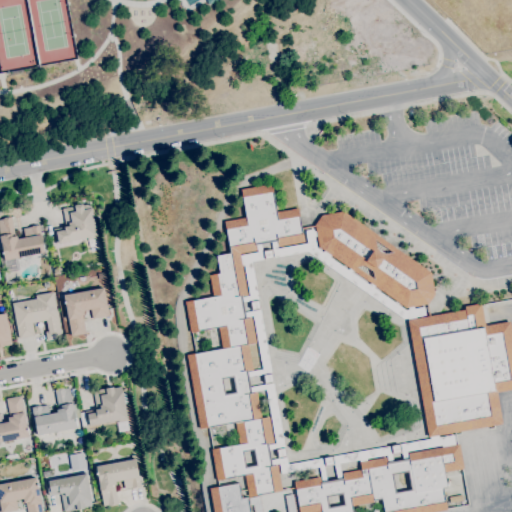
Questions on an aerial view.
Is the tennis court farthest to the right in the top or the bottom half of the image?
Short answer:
top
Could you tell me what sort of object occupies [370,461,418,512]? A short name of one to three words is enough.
building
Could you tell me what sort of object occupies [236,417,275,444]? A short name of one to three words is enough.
building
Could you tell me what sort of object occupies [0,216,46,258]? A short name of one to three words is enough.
house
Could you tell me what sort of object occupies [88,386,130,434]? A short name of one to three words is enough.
house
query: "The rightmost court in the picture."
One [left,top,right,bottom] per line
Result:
[28,0,76,64]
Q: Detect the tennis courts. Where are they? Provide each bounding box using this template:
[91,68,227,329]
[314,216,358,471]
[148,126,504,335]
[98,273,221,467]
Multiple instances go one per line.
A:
[28,0,76,64]
[0,0,40,72]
